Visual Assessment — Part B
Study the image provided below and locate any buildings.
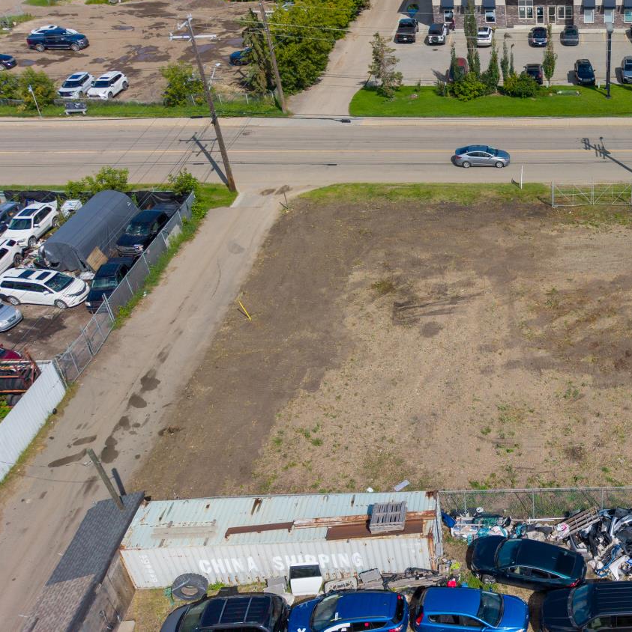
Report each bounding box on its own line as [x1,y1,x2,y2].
[20,492,149,632]
[427,0,632,29]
